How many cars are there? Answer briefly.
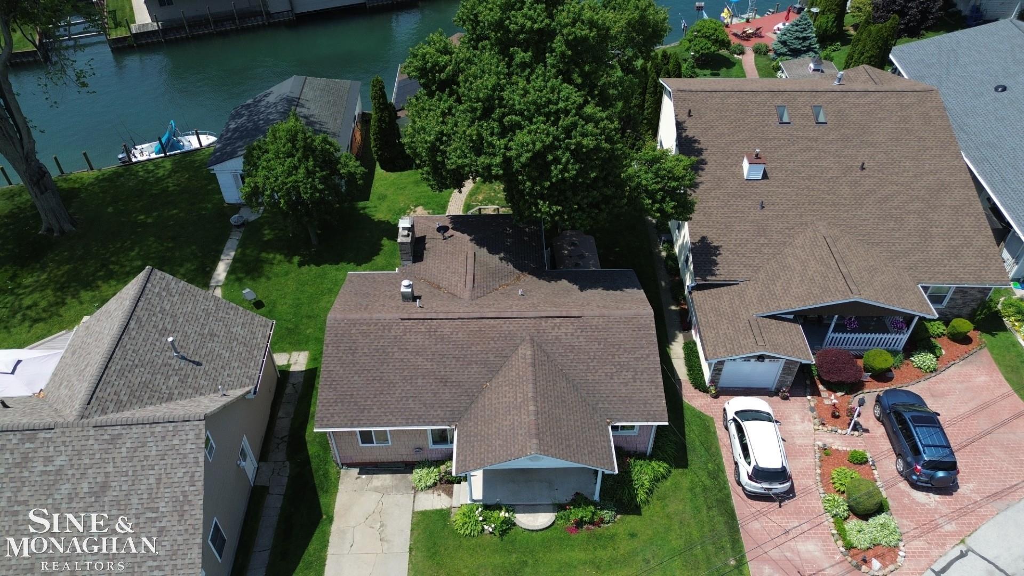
2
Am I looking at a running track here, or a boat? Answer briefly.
boat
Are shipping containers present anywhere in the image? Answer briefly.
No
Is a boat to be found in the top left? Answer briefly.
Yes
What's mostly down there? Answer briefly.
buildings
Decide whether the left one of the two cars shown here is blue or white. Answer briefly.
white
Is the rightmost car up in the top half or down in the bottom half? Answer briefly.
bottom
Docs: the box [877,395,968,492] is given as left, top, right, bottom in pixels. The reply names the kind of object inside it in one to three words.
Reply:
car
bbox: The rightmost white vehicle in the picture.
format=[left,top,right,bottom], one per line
[724,401,798,505]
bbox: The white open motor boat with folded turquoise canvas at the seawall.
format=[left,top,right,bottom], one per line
[111,116,218,164]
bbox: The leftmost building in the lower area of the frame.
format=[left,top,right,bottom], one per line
[0,265,281,576]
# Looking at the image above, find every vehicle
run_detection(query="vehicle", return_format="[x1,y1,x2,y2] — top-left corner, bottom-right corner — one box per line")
[877,395,968,492]
[724,401,798,505]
